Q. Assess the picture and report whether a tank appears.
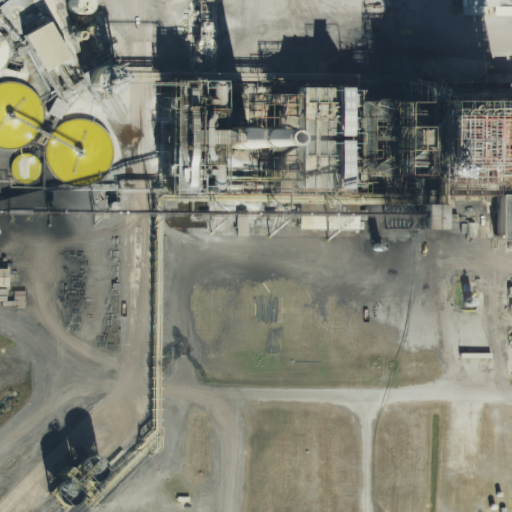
Yes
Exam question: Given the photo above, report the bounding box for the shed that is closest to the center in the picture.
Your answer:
[236,214,250,236]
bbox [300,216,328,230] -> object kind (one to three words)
building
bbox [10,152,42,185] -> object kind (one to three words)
storage tank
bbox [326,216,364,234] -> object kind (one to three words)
building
